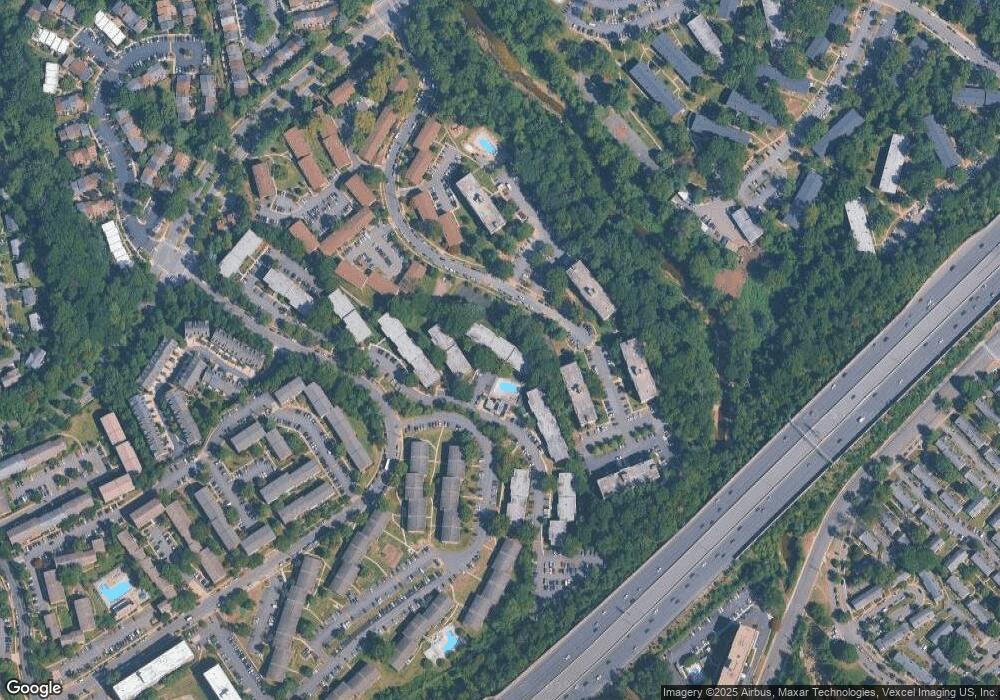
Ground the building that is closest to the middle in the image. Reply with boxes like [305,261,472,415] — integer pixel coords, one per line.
[467,322,523,370]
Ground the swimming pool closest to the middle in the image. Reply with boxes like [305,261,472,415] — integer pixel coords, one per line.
[489,377,523,403]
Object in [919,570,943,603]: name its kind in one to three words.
house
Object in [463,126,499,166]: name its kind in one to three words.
swimming pool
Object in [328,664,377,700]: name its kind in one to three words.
building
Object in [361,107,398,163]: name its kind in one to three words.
building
